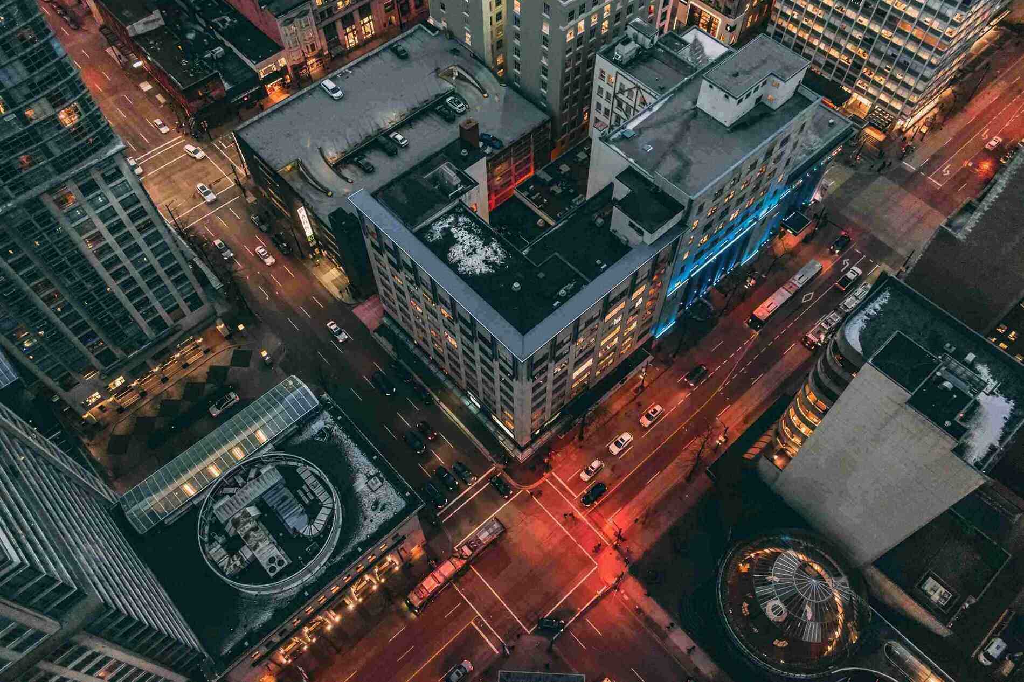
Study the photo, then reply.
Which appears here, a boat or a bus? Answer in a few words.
bus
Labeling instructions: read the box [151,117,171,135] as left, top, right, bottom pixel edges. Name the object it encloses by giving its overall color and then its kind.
white car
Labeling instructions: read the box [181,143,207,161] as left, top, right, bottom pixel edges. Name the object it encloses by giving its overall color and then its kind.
white car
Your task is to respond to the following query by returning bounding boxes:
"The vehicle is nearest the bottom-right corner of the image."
[974,635,1012,671]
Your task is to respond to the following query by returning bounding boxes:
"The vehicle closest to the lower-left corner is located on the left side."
[208,391,241,418]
